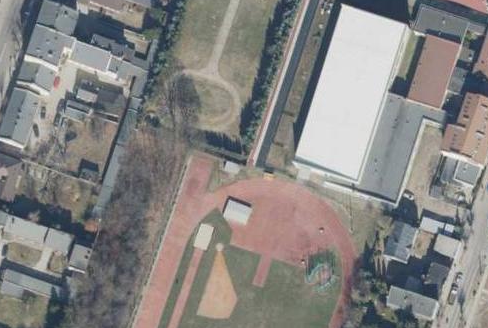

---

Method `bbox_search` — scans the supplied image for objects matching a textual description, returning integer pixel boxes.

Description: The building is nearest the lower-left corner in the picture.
[1,267,60,299]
